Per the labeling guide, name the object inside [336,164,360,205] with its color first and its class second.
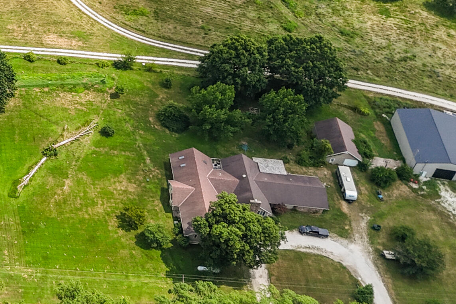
white vehicle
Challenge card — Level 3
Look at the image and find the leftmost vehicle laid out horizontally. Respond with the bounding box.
[296,222,330,238]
